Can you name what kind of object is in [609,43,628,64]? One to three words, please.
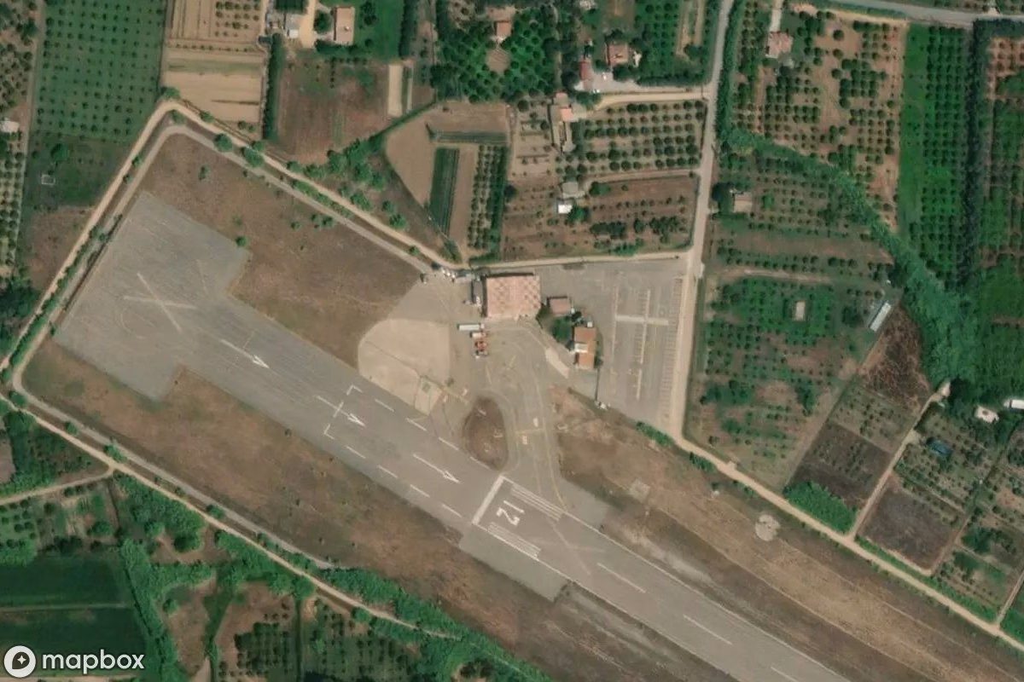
house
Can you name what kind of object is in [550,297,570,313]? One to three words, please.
house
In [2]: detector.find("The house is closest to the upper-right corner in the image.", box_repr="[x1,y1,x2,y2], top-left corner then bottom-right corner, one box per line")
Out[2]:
[768,32,792,58]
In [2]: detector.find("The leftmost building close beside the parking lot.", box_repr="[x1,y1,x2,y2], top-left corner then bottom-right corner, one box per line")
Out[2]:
[486,276,540,322]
